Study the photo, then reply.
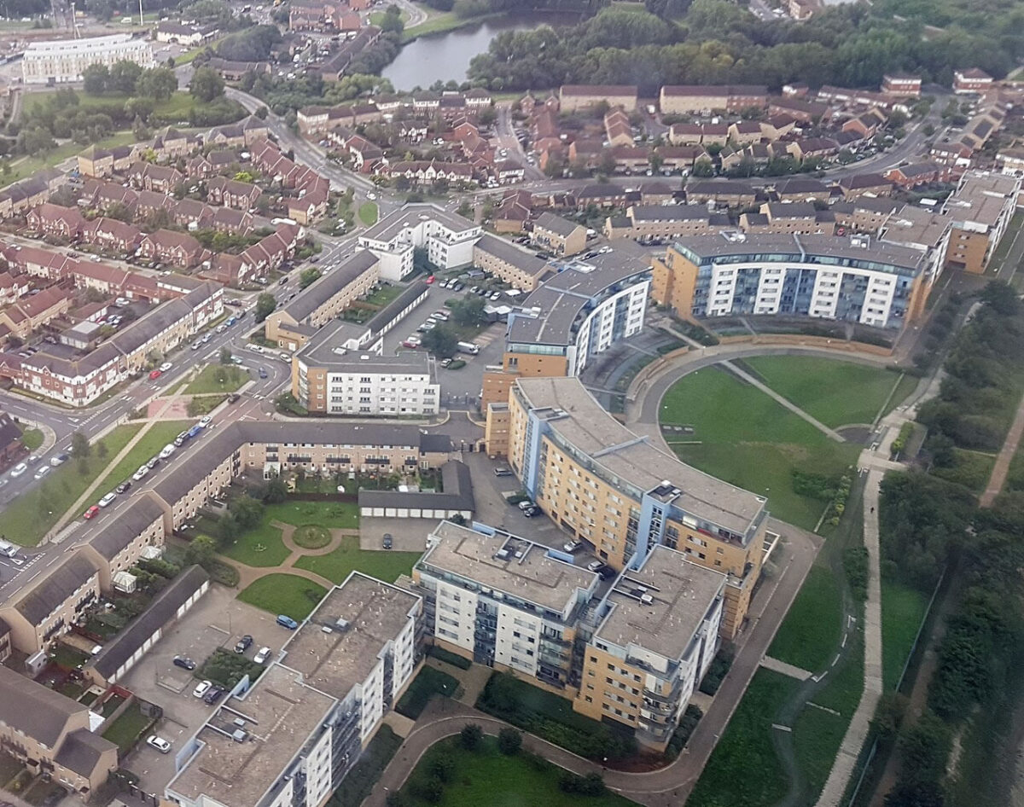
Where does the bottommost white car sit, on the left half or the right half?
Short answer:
left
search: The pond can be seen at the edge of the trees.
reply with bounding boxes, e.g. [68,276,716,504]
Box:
[381,10,597,95]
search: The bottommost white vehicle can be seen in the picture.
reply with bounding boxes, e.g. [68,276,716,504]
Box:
[143,734,175,755]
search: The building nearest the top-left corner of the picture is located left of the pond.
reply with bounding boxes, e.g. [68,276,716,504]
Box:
[20,29,154,88]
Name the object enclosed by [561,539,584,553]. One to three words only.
car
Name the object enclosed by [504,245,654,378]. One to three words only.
building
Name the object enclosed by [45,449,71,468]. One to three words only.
vehicle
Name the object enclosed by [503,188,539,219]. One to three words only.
house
